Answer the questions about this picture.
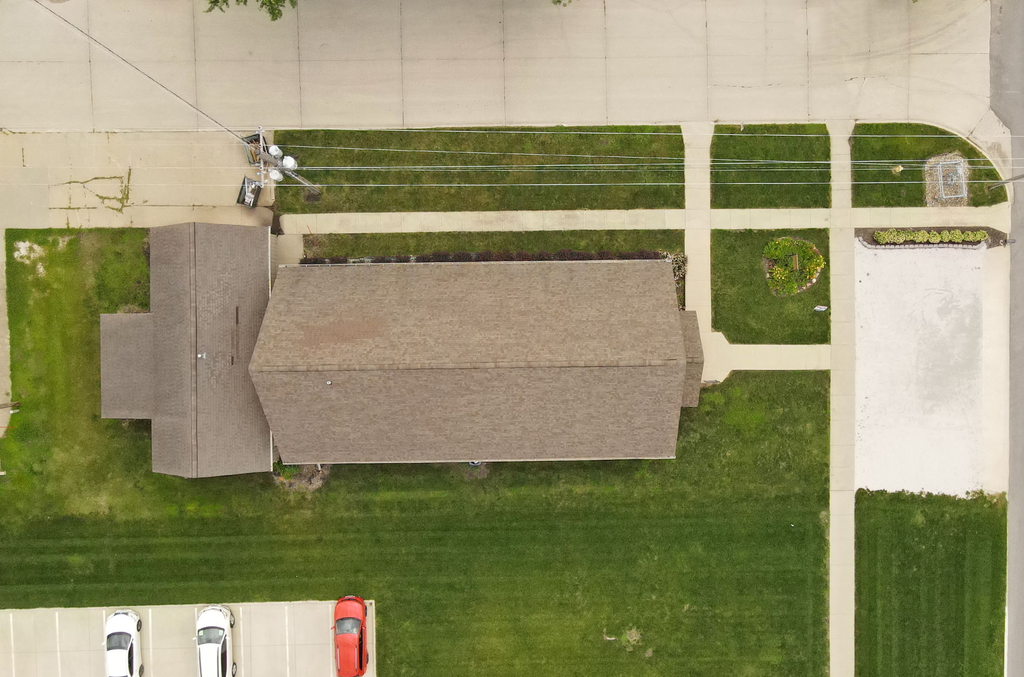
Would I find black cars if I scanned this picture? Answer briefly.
No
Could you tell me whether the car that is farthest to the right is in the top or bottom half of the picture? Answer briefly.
bottom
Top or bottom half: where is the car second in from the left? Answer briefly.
bottom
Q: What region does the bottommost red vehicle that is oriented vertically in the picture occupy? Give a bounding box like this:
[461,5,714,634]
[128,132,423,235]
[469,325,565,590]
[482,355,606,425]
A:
[328,596,368,677]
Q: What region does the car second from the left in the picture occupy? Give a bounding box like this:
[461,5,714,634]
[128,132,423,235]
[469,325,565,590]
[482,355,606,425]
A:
[190,604,235,677]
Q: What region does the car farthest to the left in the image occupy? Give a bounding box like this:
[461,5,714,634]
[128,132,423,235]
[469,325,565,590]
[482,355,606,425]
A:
[98,609,144,677]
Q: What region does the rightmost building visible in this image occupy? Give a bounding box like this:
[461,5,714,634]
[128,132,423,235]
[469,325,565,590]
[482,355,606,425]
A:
[248,258,703,471]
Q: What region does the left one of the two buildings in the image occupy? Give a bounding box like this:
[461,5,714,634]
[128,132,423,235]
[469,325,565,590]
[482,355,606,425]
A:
[101,221,284,478]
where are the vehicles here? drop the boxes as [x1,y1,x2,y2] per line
[98,609,144,677]
[190,604,235,677]
[328,596,368,677]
